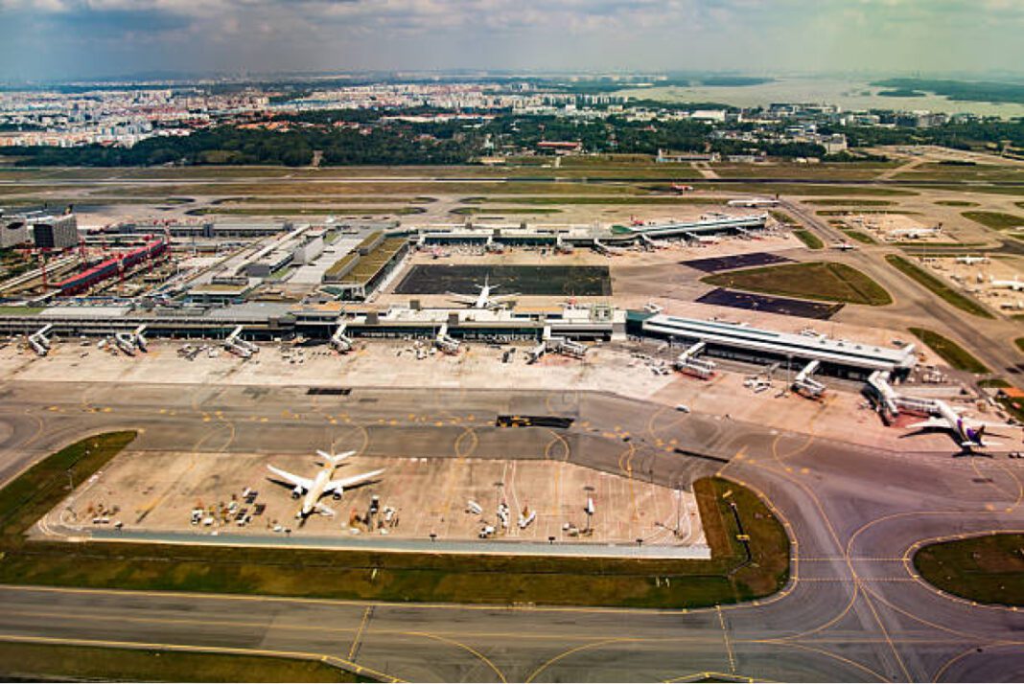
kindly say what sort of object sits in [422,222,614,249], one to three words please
building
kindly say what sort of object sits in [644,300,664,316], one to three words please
jet bridge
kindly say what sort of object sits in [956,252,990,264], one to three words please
airplane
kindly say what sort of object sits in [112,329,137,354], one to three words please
jet bridge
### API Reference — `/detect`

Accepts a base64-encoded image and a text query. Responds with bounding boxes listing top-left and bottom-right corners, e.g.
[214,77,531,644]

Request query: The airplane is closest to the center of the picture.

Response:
[449,271,522,309]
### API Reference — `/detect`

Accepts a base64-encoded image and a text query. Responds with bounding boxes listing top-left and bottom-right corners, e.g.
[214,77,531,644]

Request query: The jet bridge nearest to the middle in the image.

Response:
[526,328,553,360]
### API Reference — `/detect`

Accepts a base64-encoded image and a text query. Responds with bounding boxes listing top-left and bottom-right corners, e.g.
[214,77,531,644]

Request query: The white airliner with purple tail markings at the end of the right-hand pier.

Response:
[904,400,1024,444]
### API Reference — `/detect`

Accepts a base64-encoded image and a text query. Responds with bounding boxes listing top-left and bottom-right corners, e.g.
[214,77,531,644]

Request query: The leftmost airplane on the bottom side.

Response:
[260,436,383,521]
